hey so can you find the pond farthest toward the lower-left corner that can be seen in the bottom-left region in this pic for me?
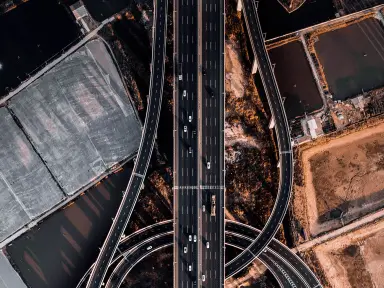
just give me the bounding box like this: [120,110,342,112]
[8,165,134,288]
